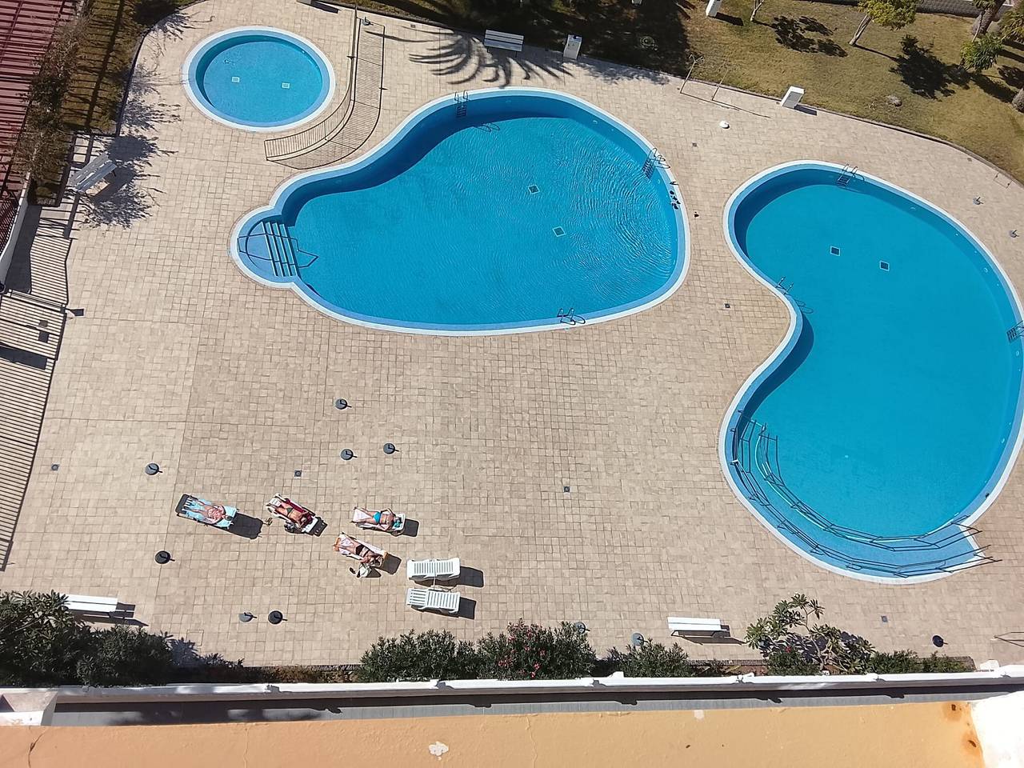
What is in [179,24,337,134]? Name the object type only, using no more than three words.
swimming pool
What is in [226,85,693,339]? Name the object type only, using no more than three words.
swimming pool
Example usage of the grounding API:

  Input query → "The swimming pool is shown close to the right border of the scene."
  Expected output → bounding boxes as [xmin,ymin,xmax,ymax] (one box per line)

[713,157,1024,588]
